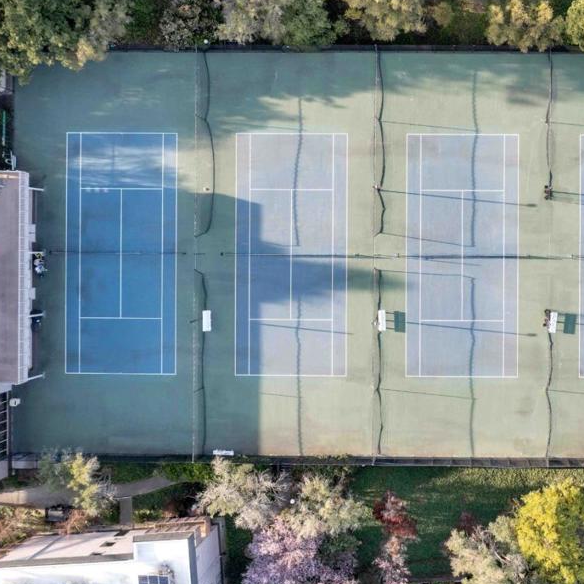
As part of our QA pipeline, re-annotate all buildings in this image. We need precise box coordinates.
[0,520,228,584]
[0,170,46,490]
